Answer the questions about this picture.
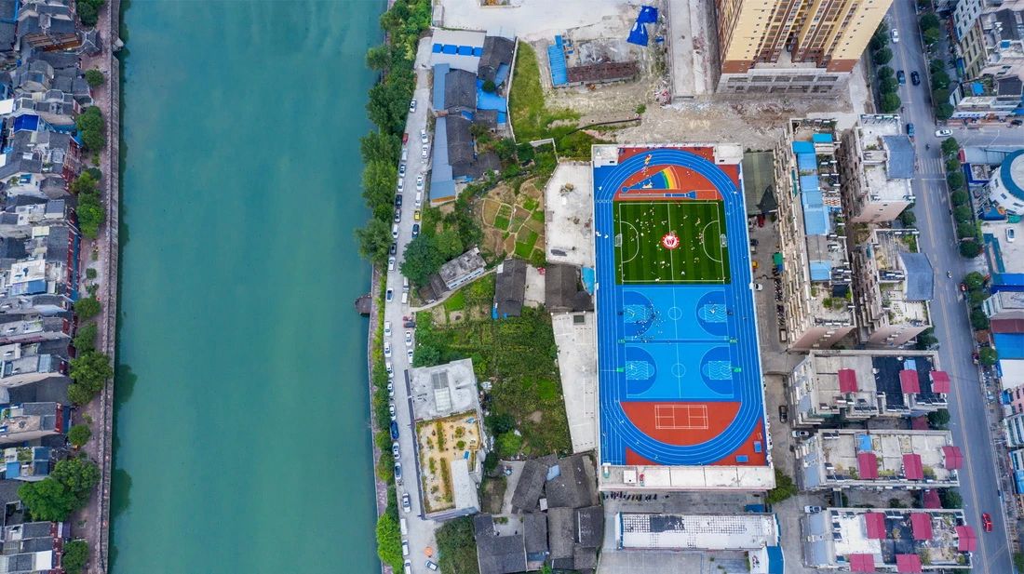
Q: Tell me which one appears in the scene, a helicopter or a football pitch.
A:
football pitch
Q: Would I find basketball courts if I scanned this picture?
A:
Yes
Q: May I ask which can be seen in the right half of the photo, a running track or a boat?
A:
running track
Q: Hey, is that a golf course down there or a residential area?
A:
residential area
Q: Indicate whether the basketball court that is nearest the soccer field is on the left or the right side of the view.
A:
right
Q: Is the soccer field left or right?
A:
right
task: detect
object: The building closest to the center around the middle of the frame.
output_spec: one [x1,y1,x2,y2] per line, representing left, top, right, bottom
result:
[495,258,527,321]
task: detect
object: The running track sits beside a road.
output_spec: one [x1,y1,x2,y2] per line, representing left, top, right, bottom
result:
[593,150,765,464]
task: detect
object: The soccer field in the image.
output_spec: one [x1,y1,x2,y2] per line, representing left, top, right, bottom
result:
[612,201,731,284]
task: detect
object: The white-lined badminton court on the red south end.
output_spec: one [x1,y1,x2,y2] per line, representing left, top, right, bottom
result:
[655,405,708,429]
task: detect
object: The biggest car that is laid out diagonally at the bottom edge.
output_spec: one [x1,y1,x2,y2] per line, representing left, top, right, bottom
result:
[422,558,440,573]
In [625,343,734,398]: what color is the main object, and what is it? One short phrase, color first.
blue basketball court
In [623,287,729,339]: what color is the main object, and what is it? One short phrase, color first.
blue basketball court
